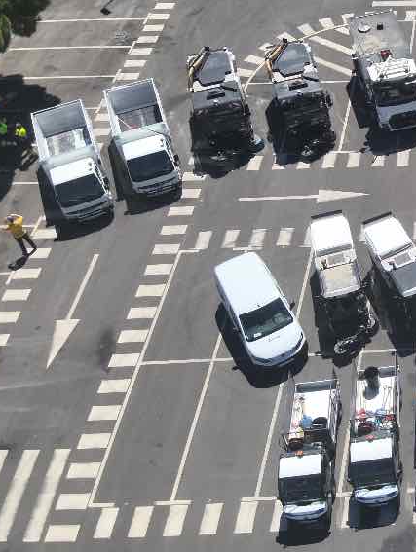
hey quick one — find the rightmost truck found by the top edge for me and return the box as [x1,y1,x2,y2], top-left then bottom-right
[351,8,416,131]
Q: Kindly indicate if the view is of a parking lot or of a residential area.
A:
parking lot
